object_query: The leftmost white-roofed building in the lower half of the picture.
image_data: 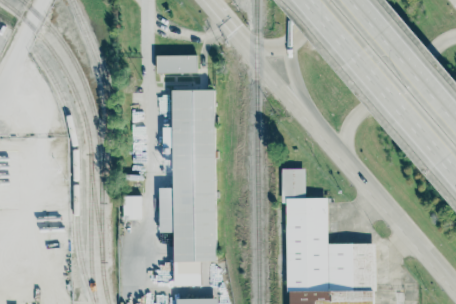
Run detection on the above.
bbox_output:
[124,196,143,221]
